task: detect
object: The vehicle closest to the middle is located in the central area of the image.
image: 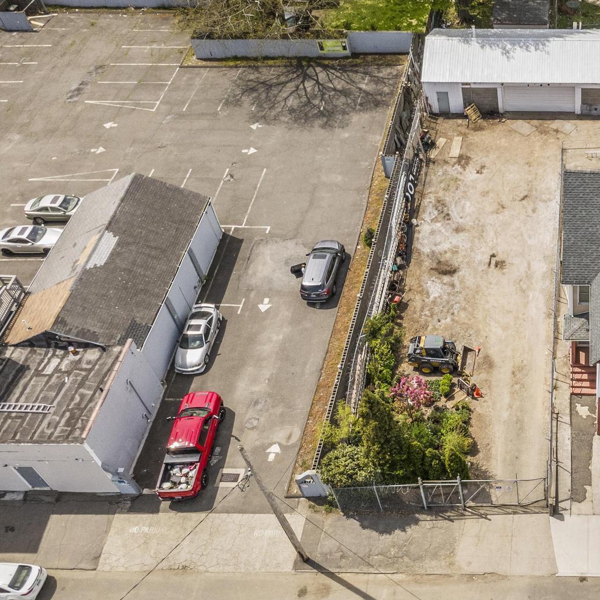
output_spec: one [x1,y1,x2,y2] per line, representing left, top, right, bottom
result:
[287,238,345,301]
